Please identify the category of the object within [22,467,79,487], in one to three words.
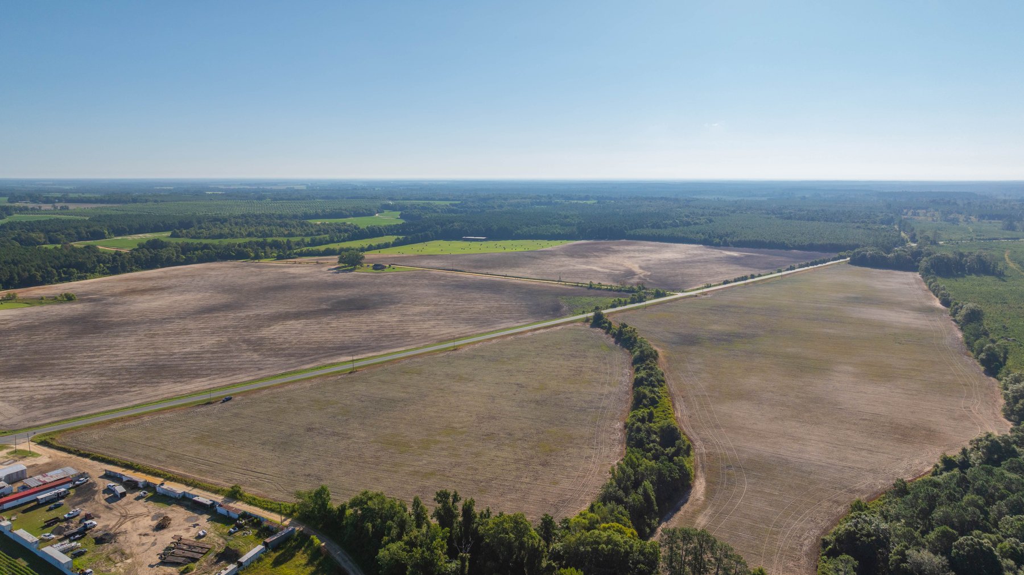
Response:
shed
